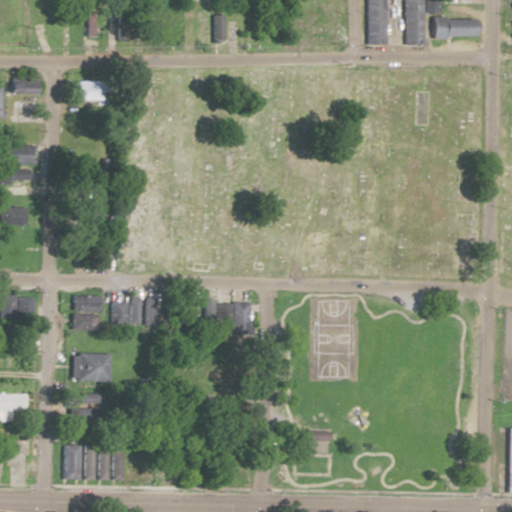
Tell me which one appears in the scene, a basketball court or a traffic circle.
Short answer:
basketball court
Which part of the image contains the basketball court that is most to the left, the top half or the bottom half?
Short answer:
bottom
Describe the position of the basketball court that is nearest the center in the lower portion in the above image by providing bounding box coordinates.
[310,298,358,381]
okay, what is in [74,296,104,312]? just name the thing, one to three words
house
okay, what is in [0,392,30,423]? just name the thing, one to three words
building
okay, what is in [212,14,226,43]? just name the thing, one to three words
house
